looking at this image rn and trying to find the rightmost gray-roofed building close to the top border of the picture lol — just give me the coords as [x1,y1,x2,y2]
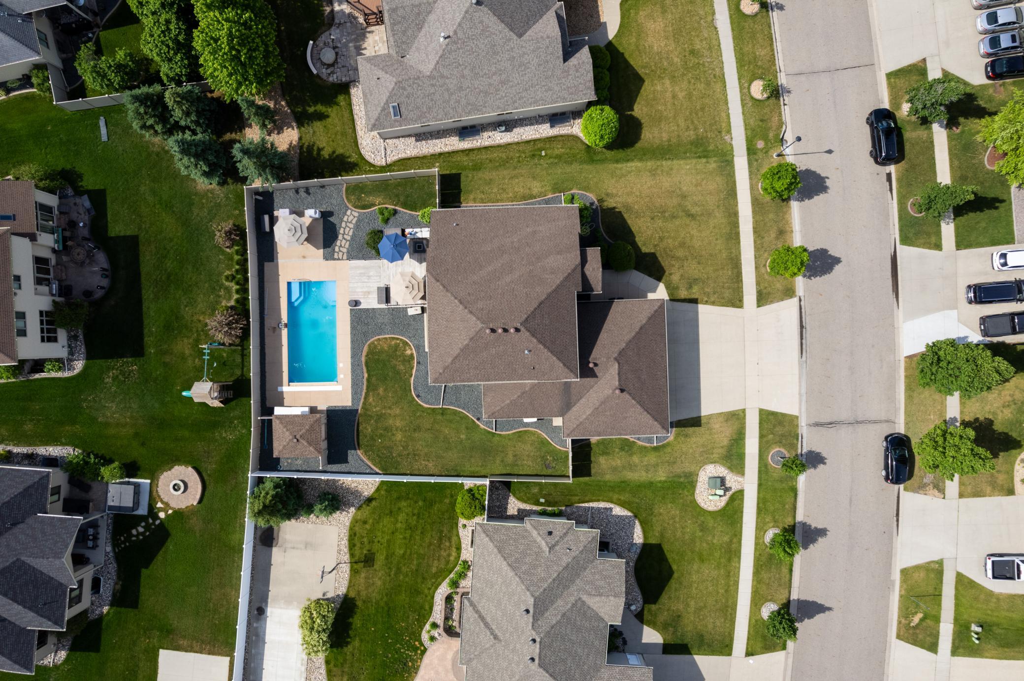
[357,0,597,140]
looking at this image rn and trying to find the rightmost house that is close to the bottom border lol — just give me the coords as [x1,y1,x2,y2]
[459,511,653,681]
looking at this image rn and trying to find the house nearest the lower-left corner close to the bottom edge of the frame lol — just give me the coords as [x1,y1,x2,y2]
[0,465,107,681]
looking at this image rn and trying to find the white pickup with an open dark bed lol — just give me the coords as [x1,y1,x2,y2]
[983,552,1024,580]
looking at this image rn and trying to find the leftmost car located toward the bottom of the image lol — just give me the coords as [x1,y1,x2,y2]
[882,434,912,486]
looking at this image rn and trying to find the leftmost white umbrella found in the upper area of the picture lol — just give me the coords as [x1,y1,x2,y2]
[276,215,309,248]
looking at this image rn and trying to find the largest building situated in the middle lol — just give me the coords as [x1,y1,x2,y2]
[424,204,670,439]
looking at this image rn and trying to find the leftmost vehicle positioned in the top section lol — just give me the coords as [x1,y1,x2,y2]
[865,106,901,167]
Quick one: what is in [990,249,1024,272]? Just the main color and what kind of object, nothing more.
white car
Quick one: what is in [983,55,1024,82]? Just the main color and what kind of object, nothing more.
black car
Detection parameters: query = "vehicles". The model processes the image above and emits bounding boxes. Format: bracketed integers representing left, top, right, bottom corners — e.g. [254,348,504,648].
[990,249,1024,272]
[970,0,1024,10]
[964,279,1024,307]
[976,3,1024,35]
[983,552,1024,580]
[977,26,1024,59]
[983,55,1024,82]
[977,316,1024,341]
[865,106,901,167]
[882,434,912,486]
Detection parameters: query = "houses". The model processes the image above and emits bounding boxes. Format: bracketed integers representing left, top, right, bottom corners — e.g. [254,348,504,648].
[0,0,93,78]
[357,0,597,140]
[0,180,69,365]
[459,511,653,681]
[0,465,107,681]
[424,204,670,439]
